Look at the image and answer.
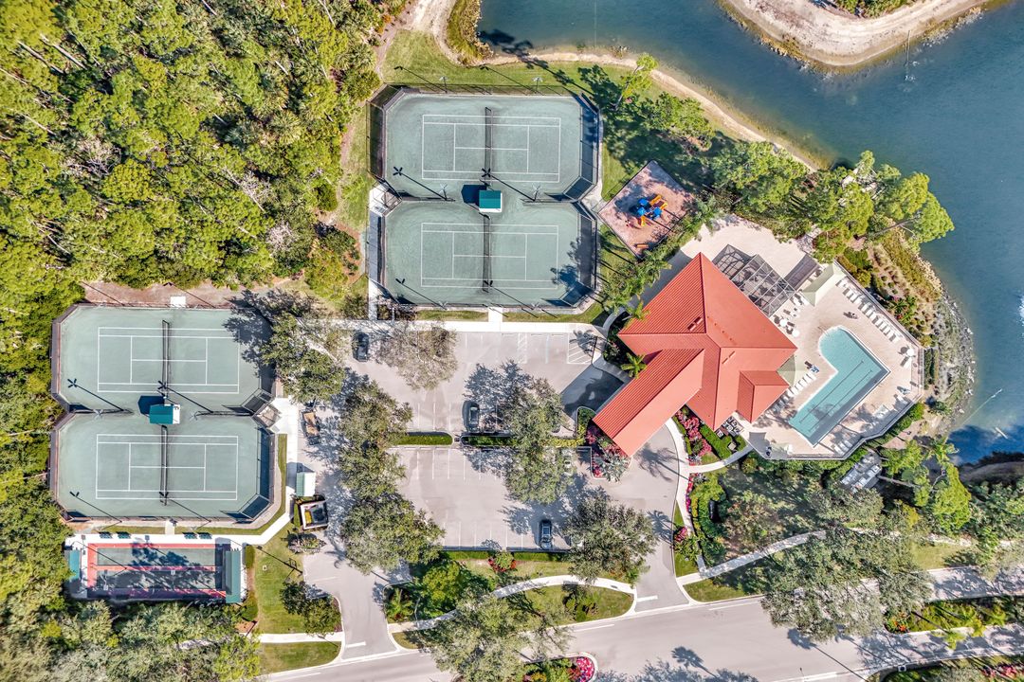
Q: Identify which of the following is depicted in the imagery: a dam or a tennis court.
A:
tennis court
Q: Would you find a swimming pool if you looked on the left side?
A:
No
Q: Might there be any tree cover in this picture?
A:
Yes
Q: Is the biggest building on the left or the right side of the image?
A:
right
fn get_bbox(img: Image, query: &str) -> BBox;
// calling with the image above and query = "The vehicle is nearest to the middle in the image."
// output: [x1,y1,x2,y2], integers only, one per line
[467,402,480,430]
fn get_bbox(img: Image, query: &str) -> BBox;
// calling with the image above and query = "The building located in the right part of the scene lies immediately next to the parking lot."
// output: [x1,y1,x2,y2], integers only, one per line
[592,251,798,457]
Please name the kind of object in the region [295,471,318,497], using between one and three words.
shed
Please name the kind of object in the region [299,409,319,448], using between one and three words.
vehicle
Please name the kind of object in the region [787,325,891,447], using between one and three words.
swimming pool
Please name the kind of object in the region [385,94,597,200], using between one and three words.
tennis court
